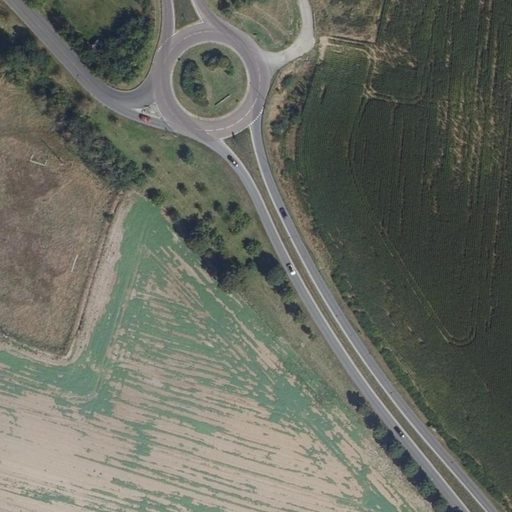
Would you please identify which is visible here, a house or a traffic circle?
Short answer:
traffic circle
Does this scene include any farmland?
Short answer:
Yes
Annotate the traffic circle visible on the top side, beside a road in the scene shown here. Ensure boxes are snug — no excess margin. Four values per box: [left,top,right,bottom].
[152,22,269,140]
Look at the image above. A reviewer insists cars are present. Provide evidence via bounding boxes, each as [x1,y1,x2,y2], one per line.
[140,114,152,122]
[287,262,296,274]
[279,206,288,218]
[228,154,238,166]
[394,426,405,438]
